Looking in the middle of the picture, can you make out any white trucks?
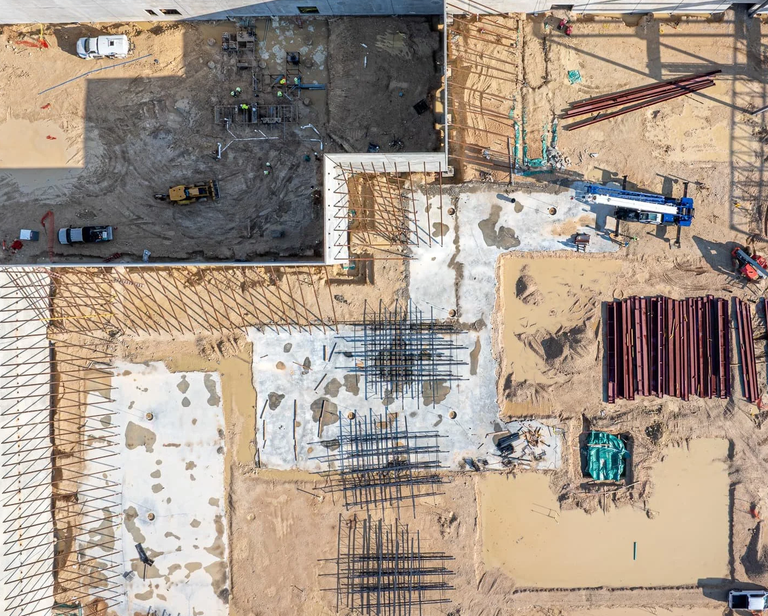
No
